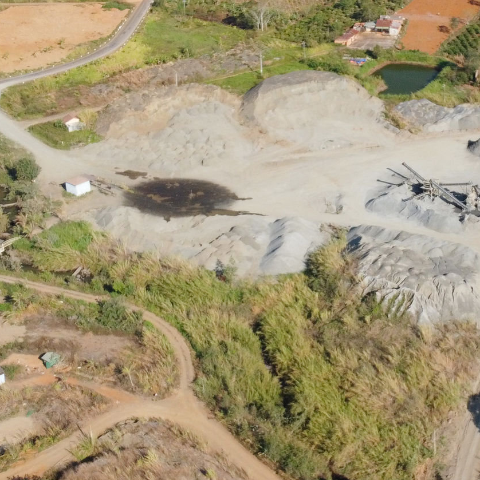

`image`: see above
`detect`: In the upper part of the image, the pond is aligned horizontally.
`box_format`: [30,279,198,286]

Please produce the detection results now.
[371,63,440,94]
